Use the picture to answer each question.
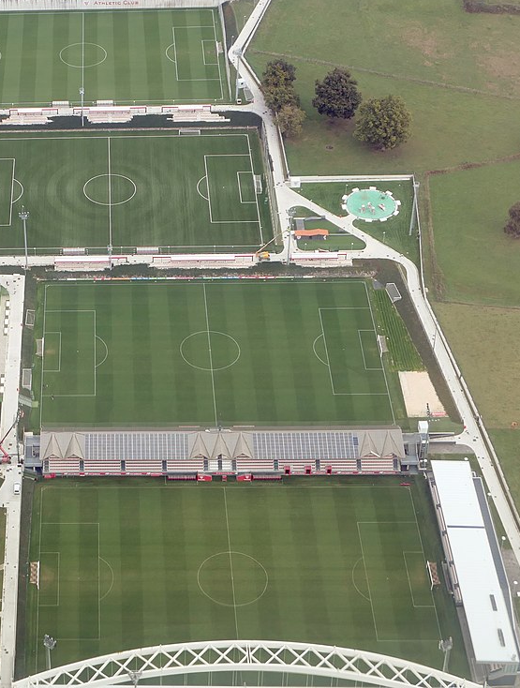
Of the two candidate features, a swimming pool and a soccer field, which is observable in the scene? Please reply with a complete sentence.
Of the two, only a soccer field appears.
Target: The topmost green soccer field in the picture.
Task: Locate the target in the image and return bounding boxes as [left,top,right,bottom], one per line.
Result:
[0,6,231,105]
